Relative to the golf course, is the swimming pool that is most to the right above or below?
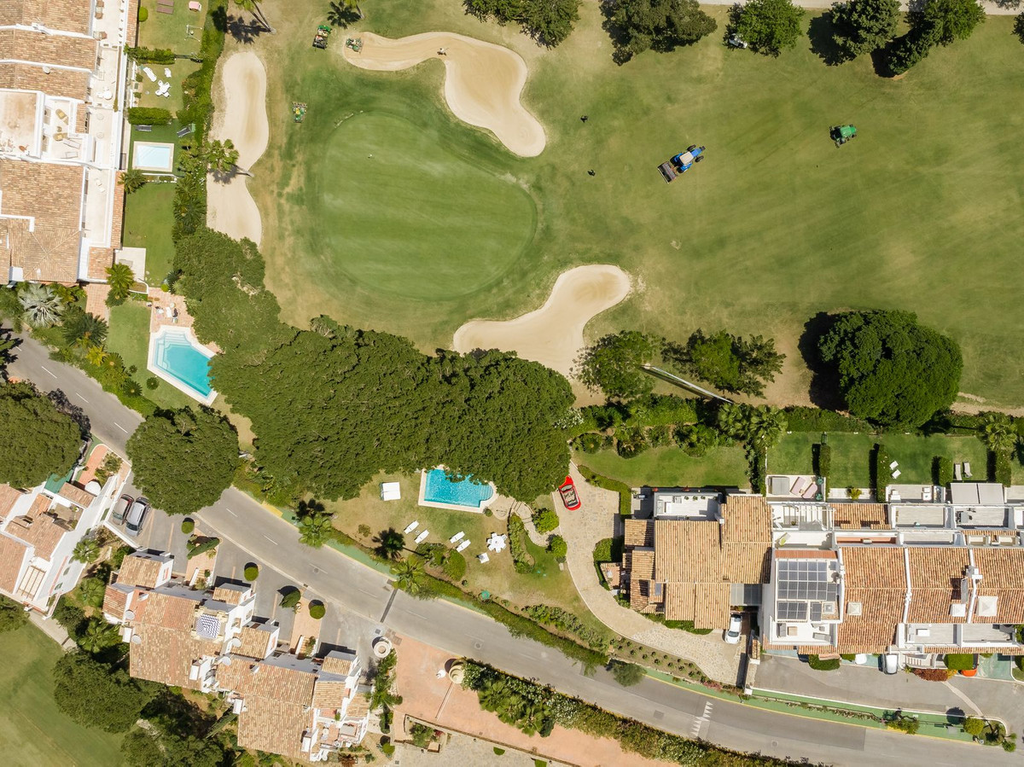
below it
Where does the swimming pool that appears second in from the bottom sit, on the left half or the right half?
left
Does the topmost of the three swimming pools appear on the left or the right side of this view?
left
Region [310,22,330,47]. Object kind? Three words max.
vehicle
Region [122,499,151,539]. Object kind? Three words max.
car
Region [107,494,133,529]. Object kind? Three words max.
car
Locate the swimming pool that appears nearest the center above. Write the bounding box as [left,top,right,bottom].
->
[418,466,499,513]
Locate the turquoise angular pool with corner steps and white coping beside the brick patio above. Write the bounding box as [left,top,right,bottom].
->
[147,325,226,407]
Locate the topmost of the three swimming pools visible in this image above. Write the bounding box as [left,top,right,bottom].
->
[132,141,174,172]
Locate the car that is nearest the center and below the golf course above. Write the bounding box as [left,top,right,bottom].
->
[558,475,582,514]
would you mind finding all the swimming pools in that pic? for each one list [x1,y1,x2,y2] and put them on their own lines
[132,141,174,172]
[418,466,499,513]
[147,325,226,407]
